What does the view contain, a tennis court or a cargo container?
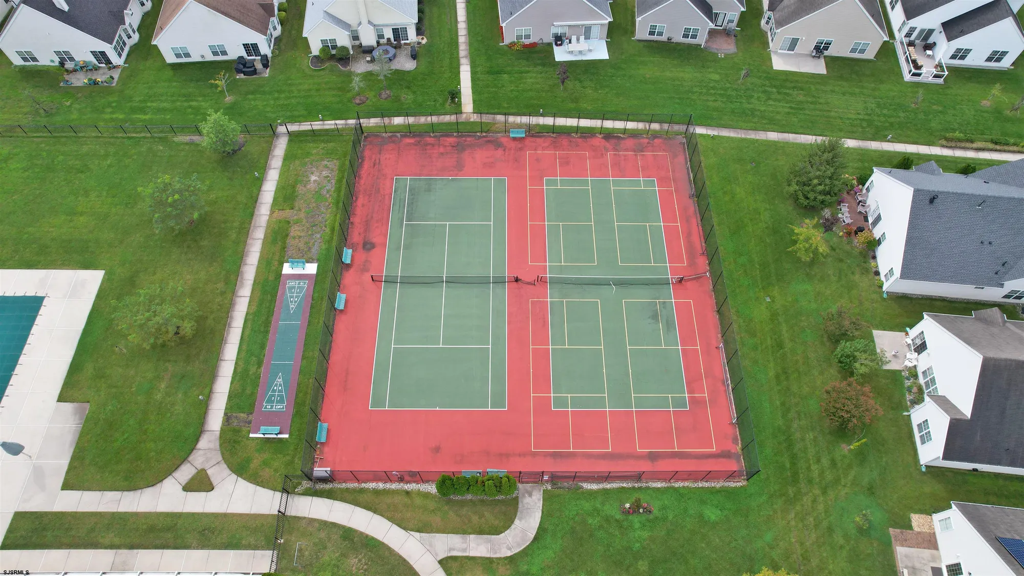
tennis court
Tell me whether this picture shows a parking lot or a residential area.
residential area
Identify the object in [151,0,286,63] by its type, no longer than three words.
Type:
house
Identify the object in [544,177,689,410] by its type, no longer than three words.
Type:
tennis court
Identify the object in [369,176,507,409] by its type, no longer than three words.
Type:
tennis court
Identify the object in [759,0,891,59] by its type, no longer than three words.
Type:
house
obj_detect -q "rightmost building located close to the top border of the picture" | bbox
[888,0,1024,72]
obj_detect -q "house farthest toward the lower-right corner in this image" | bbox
[931,499,1024,576]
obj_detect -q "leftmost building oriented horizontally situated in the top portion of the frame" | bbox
[0,0,156,66]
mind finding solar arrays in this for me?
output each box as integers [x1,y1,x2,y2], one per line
[999,540,1024,569]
